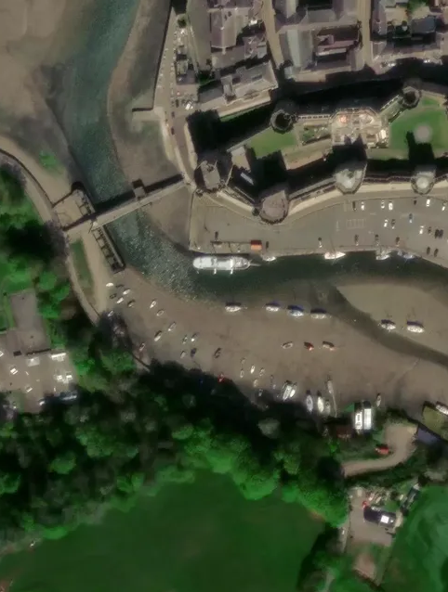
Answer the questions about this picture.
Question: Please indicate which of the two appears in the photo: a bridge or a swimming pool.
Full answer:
This aerial view contains a bridge.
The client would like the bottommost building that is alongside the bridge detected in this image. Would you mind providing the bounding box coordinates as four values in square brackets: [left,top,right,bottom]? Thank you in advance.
[196,81,448,220]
